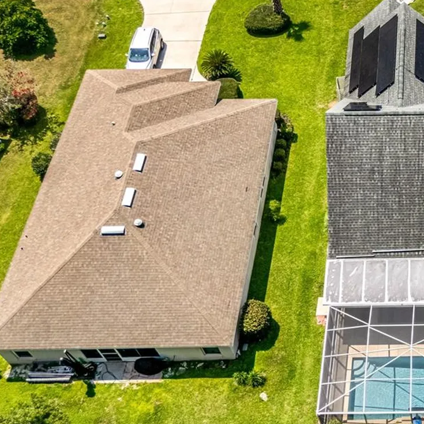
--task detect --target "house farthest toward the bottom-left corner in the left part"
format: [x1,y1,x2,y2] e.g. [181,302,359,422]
[0,68,280,363]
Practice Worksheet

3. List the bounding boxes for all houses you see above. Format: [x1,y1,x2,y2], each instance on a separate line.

[317,0,424,310]
[0,68,280,363]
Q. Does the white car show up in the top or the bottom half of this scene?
top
